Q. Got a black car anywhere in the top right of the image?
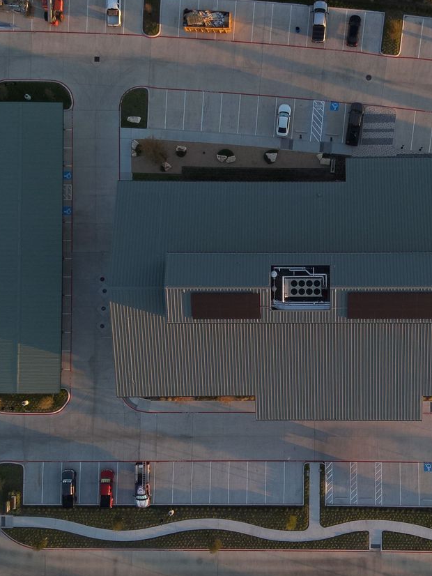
Yes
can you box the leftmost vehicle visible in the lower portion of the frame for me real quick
[56,471,75,511]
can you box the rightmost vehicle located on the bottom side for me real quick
[131,464,150,509]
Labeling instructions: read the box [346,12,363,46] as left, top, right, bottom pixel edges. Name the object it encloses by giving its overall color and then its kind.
black car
